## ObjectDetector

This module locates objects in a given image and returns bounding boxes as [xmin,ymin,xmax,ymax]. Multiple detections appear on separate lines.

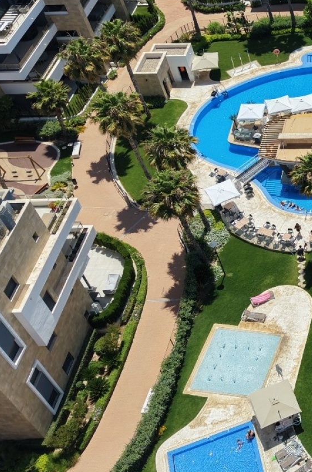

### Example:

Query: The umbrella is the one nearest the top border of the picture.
[190,50,231,77]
